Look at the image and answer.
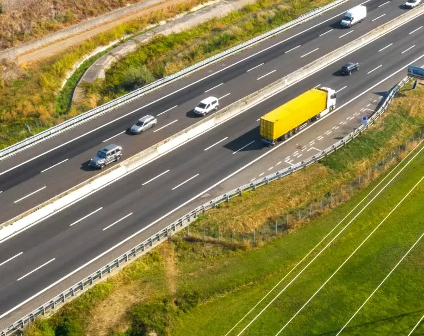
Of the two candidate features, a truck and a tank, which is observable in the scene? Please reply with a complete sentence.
I can see a truck in this picture.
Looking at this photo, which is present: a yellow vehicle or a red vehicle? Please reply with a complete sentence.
Of the two, only a yellow vehicle appears.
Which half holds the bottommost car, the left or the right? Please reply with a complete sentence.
The bottommost car sits on the left side.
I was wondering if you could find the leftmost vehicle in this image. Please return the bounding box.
[89,144,122,169]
